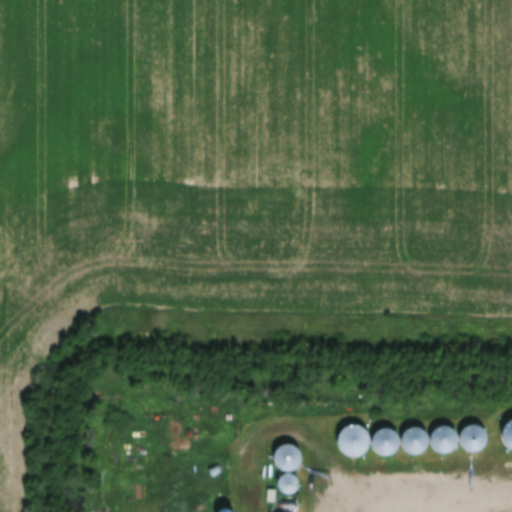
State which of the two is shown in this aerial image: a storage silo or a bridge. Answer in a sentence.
Visible in the photo is a storage silo.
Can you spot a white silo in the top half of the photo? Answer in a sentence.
No, I see no white silo in the top half of the photo.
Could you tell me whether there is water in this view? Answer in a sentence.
No, no water is visible.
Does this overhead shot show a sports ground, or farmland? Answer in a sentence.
It's farmland.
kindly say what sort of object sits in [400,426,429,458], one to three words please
silo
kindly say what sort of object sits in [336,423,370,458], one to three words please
silo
